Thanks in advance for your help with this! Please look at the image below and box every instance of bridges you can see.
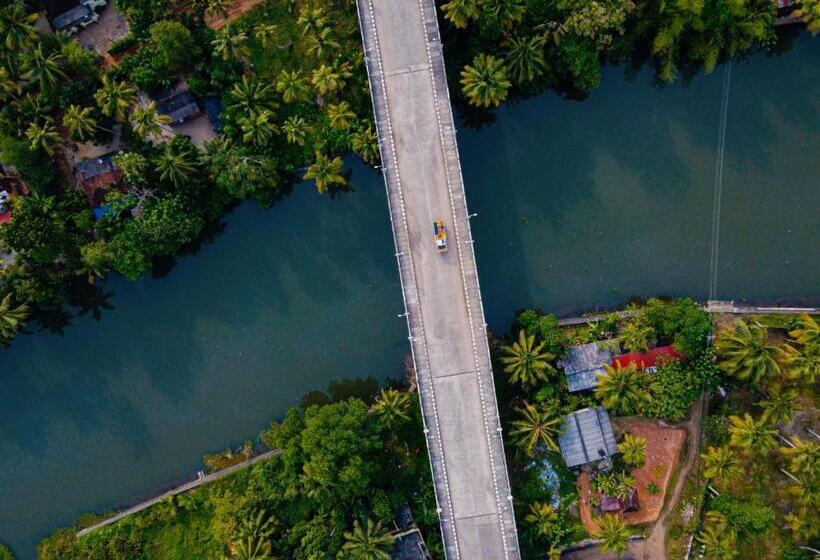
[356,0,521,560]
